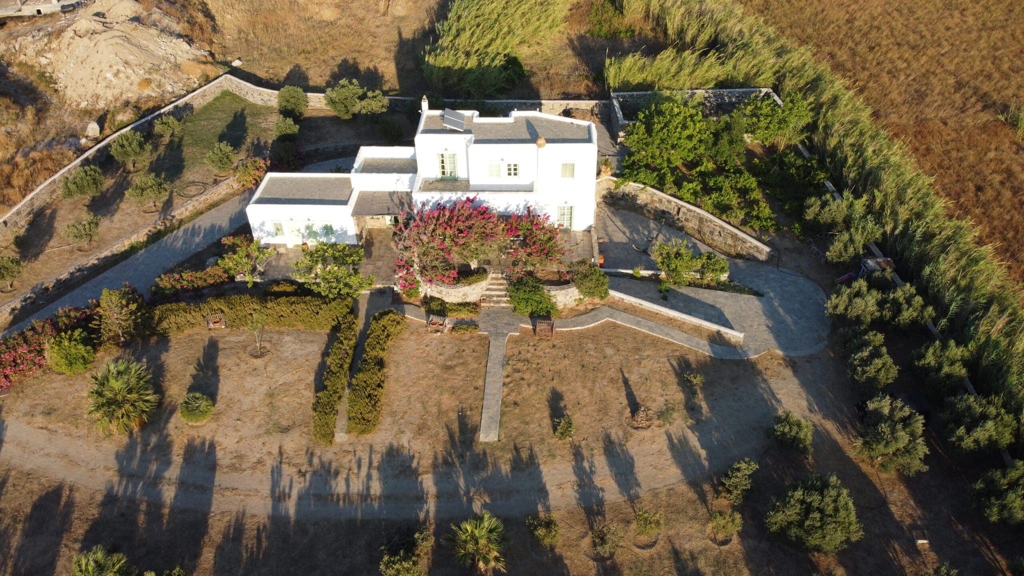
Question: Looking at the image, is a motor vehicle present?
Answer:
No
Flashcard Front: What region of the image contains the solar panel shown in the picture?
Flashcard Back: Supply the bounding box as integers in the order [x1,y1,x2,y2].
[444,109,465,132]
